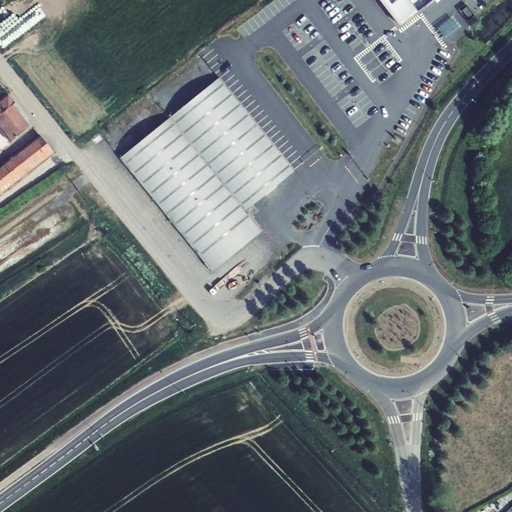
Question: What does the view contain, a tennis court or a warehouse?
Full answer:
Looking from above, you can make out a warehouse.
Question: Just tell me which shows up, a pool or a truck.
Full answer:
I can see a truck in this picture.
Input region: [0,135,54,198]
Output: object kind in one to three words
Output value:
barn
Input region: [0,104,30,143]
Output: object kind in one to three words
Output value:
house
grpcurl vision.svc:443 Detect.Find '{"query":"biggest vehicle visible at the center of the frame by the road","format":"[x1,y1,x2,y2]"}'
[208,260,250,296]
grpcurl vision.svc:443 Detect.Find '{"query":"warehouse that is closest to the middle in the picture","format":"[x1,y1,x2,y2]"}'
[121,78,294,270]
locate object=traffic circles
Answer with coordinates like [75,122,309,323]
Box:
[323,258,467,396]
